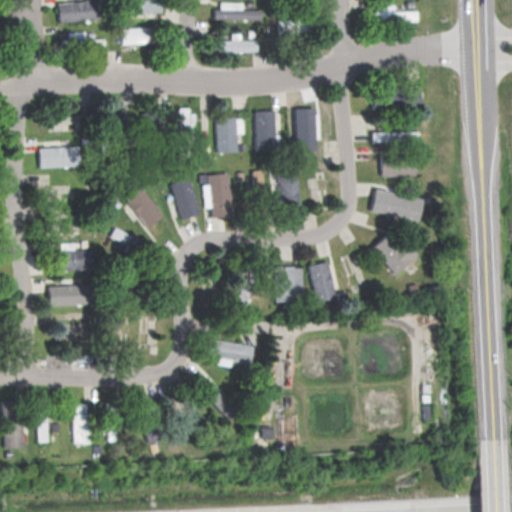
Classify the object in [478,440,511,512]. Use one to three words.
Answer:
bridge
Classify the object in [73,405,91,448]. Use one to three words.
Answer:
house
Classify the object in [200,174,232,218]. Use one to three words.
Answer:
house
